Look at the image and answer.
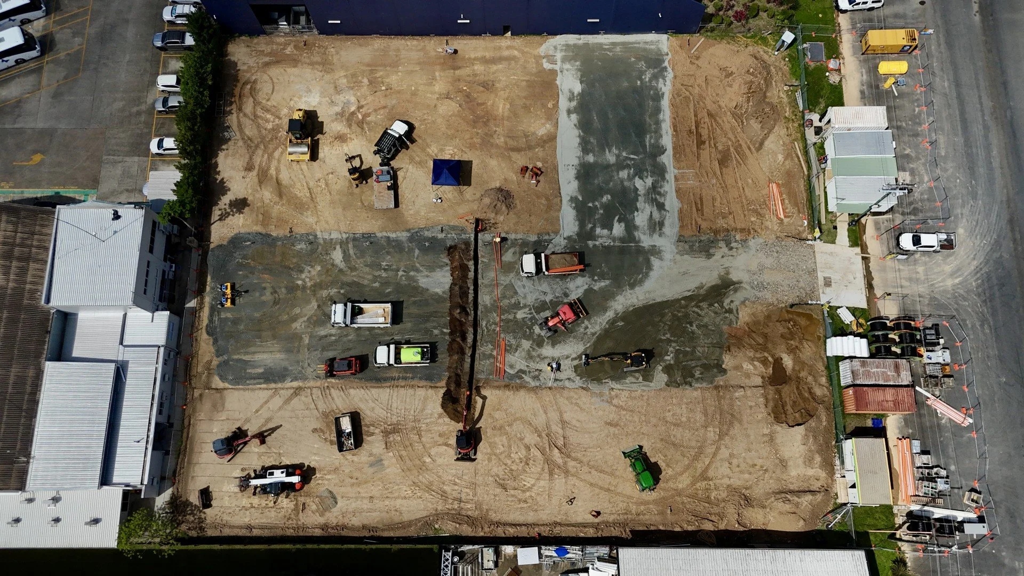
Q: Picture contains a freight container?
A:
Yes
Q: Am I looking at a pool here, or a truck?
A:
truck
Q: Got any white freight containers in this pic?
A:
Yes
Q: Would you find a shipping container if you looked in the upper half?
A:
Yes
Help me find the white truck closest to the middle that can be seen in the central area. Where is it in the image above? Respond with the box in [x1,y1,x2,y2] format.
[521,248,585,277]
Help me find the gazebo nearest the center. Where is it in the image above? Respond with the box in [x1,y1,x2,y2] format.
[432,159,461,194]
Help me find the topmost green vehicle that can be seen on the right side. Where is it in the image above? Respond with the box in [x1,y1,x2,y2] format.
[619,439,659,492]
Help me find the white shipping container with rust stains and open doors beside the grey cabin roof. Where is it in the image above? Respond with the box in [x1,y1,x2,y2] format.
[815,101,890,141]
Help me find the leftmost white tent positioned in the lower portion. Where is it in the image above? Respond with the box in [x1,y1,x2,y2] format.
[516,546,539,566]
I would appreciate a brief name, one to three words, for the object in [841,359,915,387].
shipping container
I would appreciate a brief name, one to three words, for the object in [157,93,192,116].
car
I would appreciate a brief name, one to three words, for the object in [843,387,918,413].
shipping container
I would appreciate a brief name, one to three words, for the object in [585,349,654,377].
work vehicle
